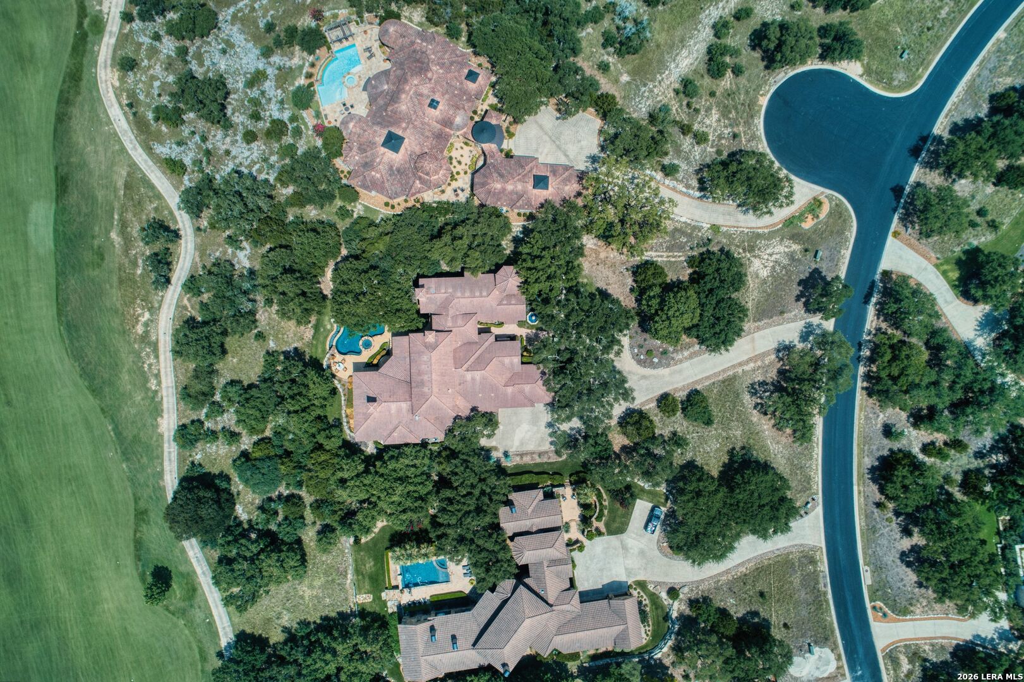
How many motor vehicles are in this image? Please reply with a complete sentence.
The count comes to 1 motor vehicle.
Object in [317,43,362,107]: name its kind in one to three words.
swimming pool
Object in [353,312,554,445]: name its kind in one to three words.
house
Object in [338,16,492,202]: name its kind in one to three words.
house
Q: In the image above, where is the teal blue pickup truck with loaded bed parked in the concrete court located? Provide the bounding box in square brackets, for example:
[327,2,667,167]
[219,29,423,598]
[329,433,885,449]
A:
[643,506,665,535]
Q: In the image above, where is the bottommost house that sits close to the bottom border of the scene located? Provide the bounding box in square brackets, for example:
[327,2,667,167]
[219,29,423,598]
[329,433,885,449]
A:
[397,561,643,682]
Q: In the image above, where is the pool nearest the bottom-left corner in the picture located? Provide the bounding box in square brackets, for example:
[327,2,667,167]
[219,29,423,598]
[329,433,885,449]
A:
[399,557,451,590]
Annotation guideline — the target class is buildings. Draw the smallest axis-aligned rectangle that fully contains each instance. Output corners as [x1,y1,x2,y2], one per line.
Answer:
[338,16,492,202]
[499,488,563,537]
[397,561,643,682]
[353,312,554,445]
